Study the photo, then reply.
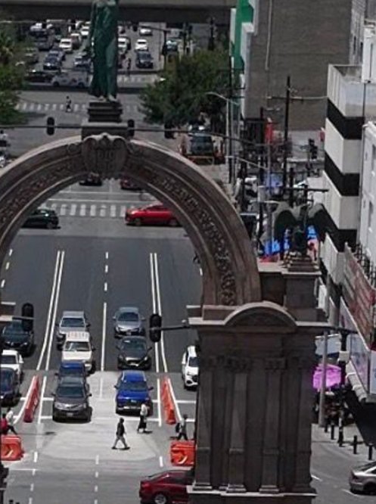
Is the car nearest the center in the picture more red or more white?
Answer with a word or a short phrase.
red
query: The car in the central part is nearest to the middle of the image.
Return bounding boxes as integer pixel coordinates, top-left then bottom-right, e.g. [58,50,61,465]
[125,202,182,227]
